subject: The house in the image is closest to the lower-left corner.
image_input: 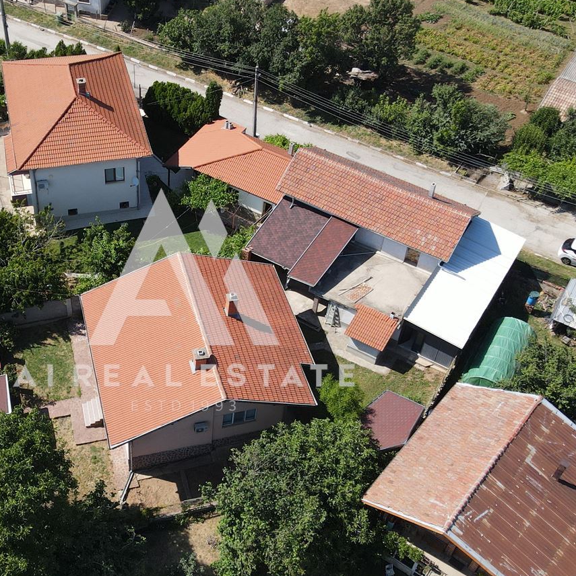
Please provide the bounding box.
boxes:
[80,251,317,494]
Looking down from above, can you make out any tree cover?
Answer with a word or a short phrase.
Yes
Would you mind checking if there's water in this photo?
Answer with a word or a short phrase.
No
